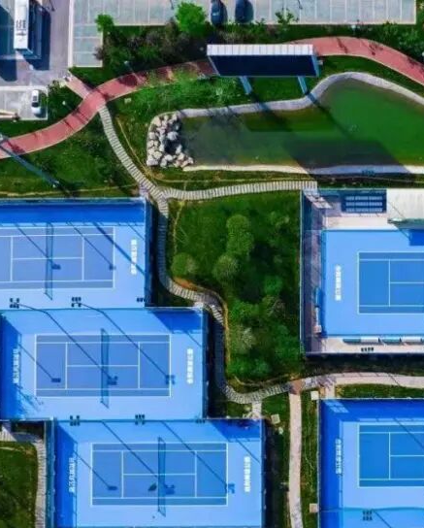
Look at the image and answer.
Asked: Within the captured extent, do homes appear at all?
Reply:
No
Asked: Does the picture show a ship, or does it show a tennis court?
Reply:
tennis court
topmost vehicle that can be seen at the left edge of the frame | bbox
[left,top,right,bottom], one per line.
[11,0,34,52]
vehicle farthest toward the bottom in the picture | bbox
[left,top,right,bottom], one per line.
[29,90,43,116]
